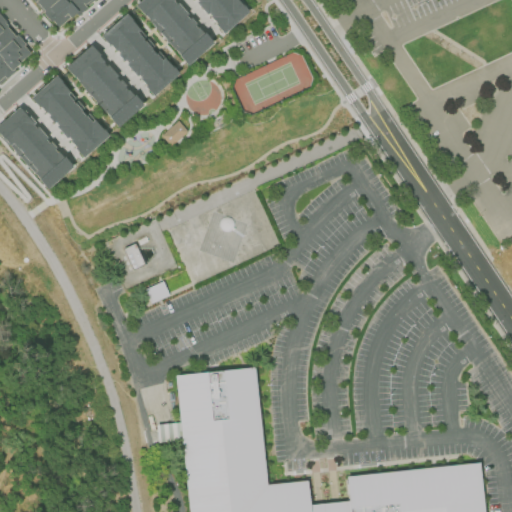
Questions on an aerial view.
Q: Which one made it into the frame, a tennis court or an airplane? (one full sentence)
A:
I can see a tennis court in this picture.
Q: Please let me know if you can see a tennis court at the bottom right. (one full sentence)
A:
No, at the bottom right there is no tennis court.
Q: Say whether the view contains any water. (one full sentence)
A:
No, there's no water in this view.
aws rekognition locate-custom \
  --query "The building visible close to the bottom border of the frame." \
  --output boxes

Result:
[177,368,487,512]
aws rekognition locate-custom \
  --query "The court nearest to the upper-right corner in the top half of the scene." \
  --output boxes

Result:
[235,53,313,112]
